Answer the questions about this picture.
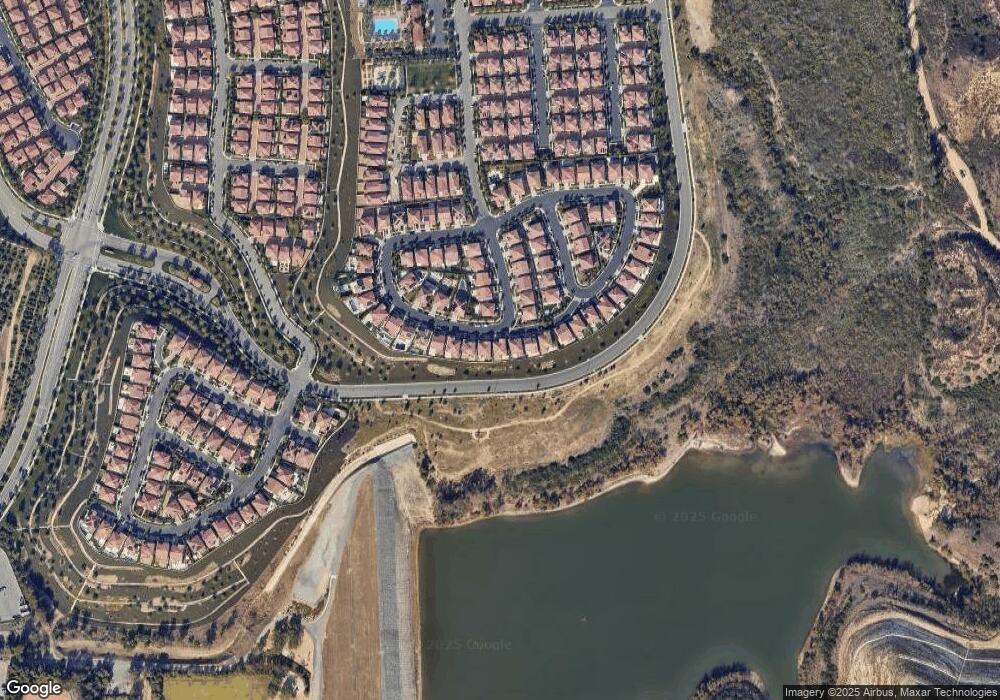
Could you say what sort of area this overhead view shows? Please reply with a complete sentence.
It's a residential area.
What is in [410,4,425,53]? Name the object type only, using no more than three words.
building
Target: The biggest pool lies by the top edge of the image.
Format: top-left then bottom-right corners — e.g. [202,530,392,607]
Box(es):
[373,18,398,33]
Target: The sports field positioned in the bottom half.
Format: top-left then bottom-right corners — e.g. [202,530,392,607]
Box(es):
[164,673,263,700]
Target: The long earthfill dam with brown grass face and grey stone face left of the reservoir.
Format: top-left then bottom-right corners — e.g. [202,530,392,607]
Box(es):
[323,456,417,700]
